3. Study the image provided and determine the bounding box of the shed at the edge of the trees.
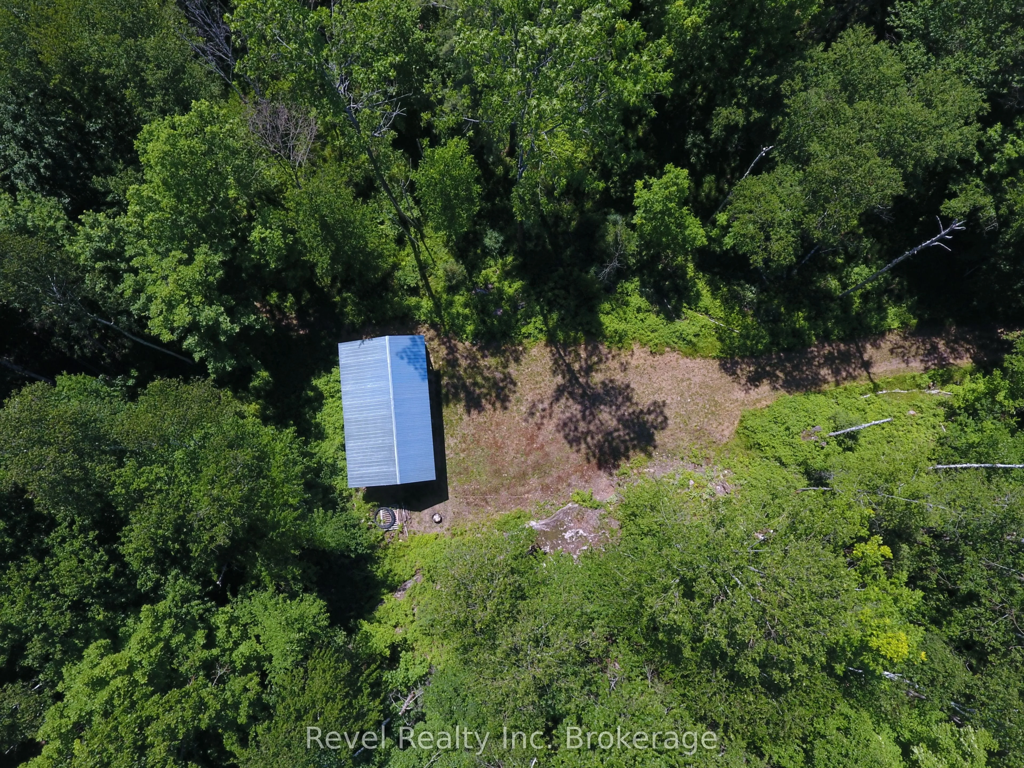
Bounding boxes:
[339,334,437,488]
